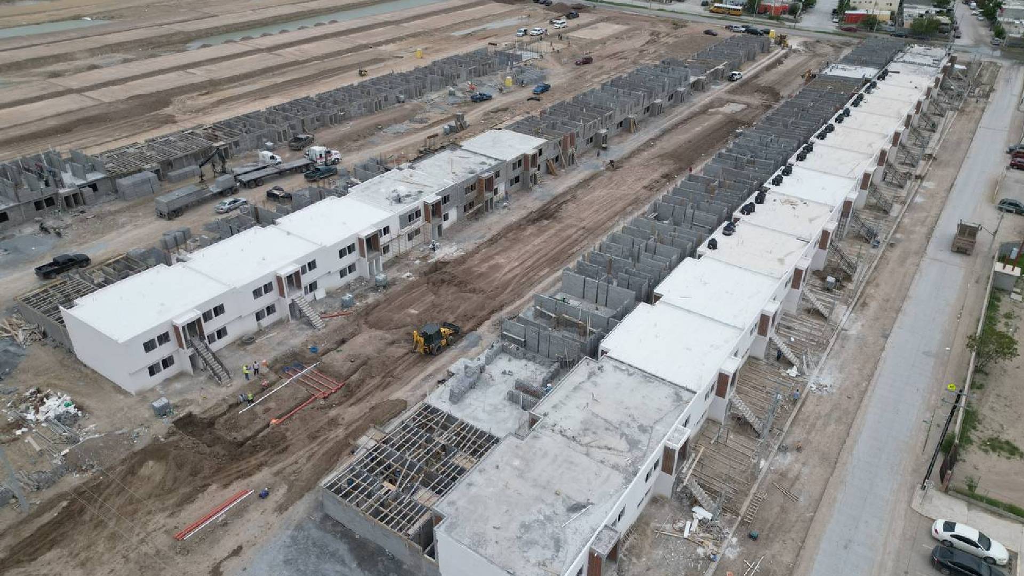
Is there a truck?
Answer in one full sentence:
Yes, there's a truck down there.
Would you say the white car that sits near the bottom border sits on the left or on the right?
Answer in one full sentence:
The white car that sits near the bottom border sits on the right side.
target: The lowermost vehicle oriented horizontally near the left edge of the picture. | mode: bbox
[32,254,89,278]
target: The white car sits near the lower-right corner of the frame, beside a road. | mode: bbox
[935,517,1015,567]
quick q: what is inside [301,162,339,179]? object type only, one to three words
vehicle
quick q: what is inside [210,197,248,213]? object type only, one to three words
car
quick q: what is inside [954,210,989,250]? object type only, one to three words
truck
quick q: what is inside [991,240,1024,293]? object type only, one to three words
shed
